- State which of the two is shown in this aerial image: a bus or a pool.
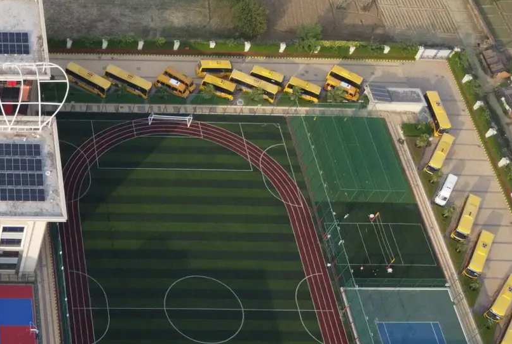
bus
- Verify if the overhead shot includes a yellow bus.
Yes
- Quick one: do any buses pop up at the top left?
Yes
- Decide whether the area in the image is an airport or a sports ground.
sports ground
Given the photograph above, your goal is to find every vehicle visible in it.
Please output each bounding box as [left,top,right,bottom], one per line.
[492,309,512,344]
[189,60,236,77]
[57,60,118,100]
[164,64,194,94]
[447,192,482,246]
[154,74,187,100]
[420,131,456,180]
[223,67,285,106]
[477,270,512,329]
[194,73,242,104]
[457,227,495,284]
[423,87,454,138]
[431,175,457,207]
[244,64,286,93]
[99,62,155,101]
[282,75,326,106]
[319,63,370,98]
